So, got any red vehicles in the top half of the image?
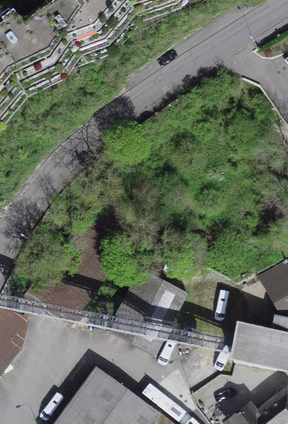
No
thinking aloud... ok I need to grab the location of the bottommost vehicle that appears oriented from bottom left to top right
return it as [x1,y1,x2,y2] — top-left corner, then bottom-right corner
[40,392,65,421]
